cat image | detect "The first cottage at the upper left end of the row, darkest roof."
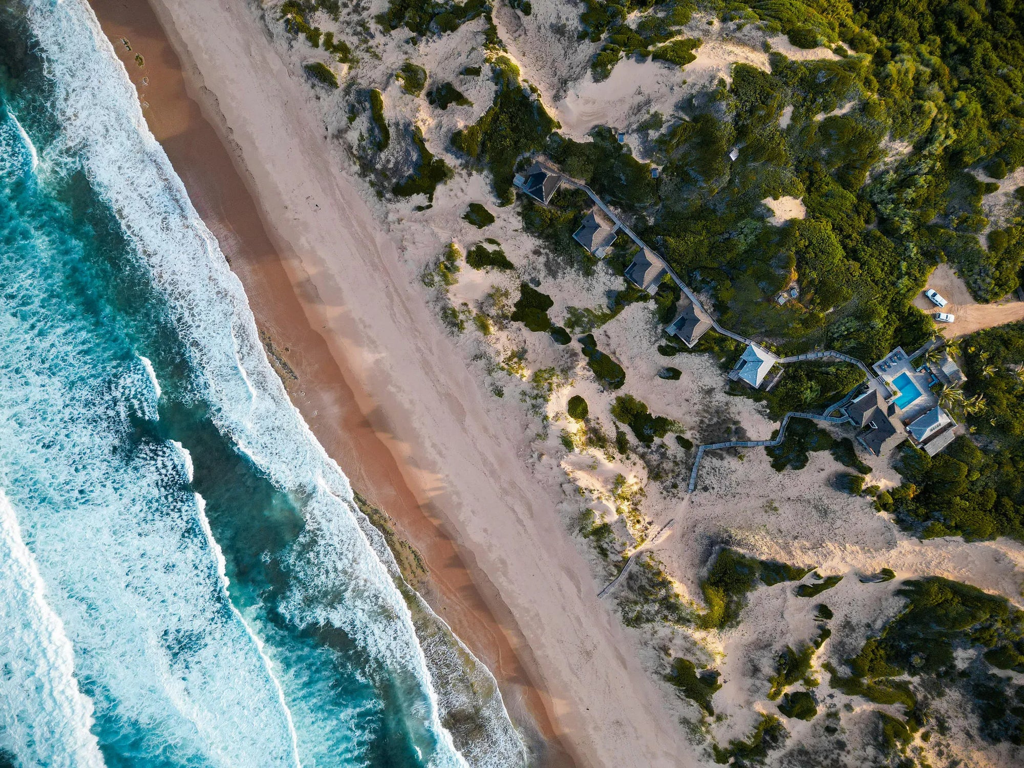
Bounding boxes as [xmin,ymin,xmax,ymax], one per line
[513,158,564,206]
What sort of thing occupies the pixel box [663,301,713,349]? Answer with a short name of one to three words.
house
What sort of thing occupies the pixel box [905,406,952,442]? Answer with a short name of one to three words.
building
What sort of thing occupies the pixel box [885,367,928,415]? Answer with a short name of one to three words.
swimming pool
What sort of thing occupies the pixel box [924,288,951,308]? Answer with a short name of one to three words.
car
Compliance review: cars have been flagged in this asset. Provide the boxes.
[924,288,951,308]
[934,313,953,323]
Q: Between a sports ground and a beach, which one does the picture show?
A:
beach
